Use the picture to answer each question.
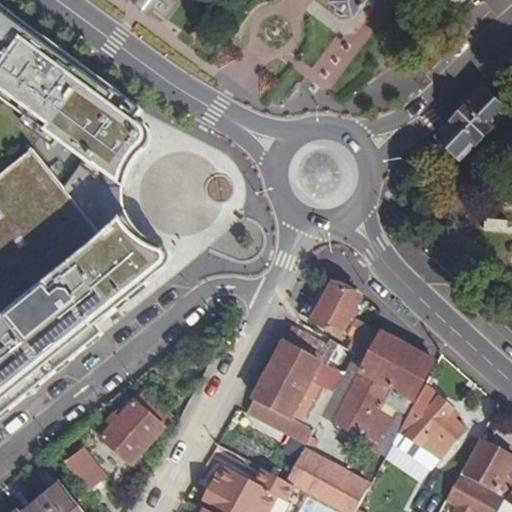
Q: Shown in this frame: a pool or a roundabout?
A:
roundabout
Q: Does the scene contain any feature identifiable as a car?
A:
Yes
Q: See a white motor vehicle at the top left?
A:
No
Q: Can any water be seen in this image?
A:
No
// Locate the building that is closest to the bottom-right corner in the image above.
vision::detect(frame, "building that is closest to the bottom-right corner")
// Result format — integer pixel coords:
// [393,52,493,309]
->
[462,439,512,497]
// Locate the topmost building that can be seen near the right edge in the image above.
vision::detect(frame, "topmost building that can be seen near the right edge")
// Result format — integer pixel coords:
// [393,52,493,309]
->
[447,92,504,159]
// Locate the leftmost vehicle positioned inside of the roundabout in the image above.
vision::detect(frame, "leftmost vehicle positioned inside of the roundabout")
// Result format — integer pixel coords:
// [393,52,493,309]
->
[310,214,327,228]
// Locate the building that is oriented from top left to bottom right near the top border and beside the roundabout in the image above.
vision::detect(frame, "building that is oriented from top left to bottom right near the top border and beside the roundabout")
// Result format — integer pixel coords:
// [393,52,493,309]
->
[0,7,150,184]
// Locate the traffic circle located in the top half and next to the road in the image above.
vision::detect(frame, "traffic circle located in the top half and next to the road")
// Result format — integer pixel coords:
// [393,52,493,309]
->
[227,99,406,276]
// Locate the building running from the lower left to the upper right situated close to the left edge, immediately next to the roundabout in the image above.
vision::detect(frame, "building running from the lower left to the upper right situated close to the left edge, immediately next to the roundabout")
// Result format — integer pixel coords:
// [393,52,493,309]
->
[0,216,164,414]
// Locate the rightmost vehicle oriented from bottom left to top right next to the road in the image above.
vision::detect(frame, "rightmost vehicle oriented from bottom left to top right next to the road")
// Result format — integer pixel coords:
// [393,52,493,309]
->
[454,42,470,60]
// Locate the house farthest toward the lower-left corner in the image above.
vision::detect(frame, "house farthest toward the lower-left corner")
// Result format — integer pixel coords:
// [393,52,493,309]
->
[16,480,82,512]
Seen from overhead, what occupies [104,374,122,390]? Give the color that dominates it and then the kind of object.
white car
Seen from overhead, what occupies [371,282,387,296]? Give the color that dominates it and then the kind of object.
white car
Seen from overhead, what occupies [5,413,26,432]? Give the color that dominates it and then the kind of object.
white vehicle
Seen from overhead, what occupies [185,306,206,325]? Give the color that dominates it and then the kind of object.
white vehicle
